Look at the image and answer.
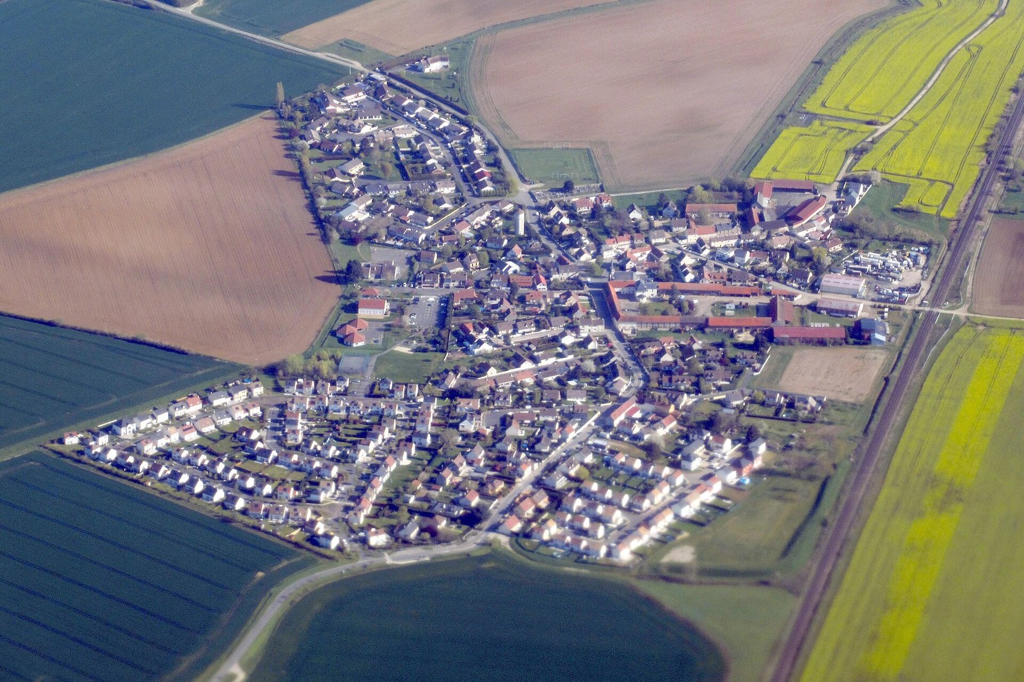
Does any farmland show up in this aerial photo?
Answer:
Yes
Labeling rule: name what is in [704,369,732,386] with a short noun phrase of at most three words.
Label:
house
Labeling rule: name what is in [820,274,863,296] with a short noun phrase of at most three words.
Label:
hangar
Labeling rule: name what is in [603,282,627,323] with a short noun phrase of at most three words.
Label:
barn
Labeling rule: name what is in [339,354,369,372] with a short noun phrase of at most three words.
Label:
sports court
